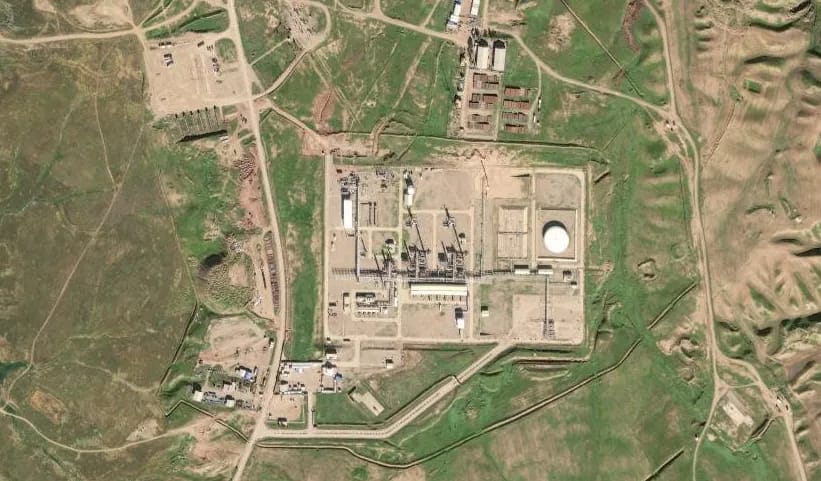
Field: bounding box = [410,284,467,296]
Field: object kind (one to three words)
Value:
building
